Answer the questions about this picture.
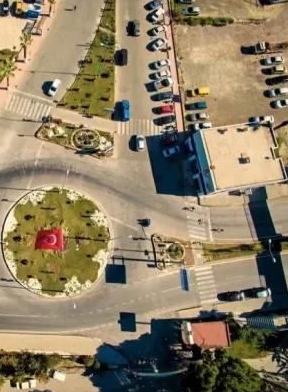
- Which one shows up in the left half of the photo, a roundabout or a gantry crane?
roundabout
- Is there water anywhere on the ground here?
No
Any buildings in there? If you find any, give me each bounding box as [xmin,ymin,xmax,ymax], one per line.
[181,317,231,346]
[182,122,288,195]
